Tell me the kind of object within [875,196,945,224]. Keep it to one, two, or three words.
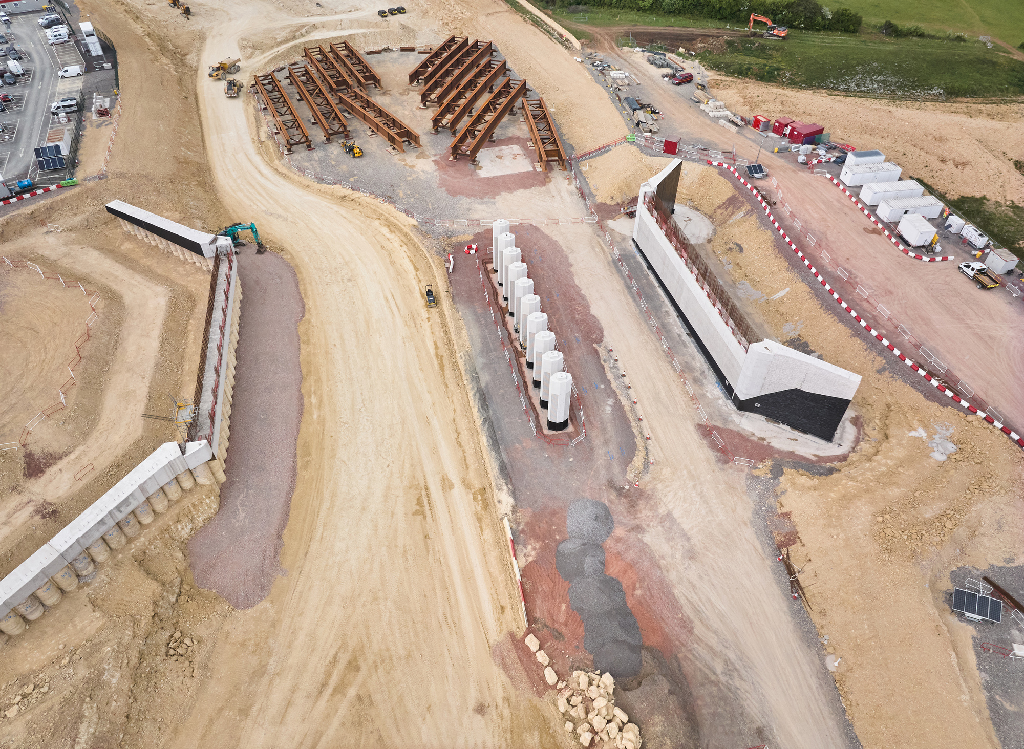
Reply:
building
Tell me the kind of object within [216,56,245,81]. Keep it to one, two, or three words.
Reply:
truck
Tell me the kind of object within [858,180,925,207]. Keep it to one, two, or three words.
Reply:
building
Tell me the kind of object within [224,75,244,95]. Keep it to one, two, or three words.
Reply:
work vehicle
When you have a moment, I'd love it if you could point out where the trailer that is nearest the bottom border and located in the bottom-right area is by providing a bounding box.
[945,574,1002,628]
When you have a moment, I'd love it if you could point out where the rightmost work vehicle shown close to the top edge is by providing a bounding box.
[748,11,790,42]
